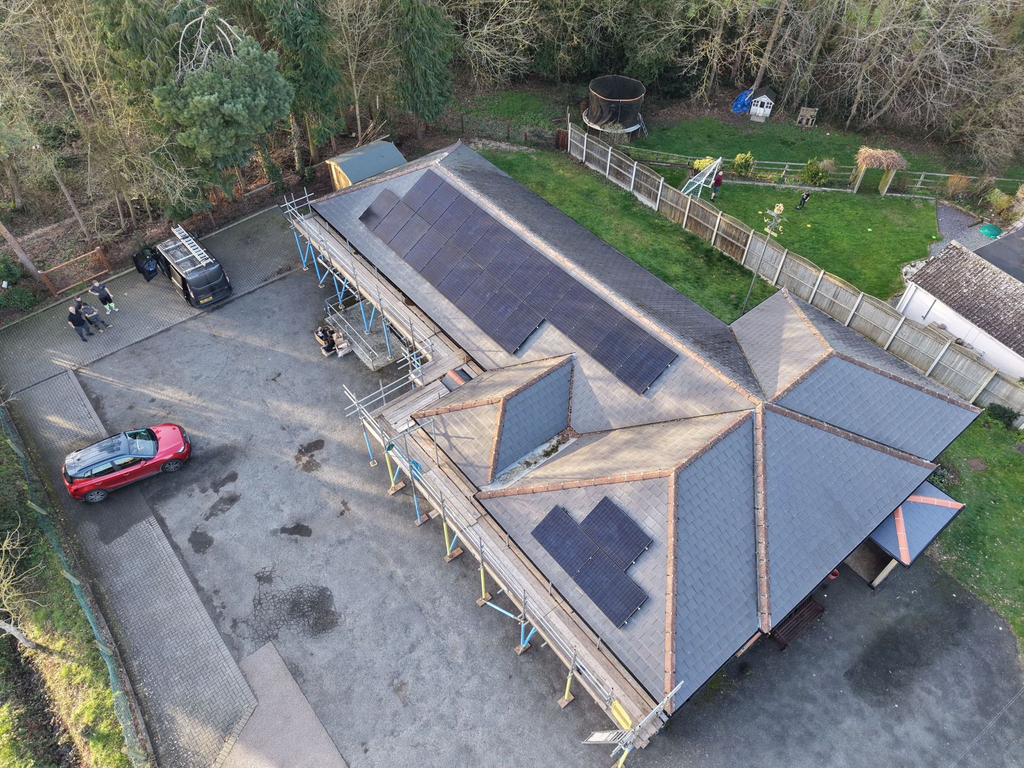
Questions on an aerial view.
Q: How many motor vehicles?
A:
2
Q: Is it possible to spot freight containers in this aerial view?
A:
No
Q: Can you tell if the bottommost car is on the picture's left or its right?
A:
left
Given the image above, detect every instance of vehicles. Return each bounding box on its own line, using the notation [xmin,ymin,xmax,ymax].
[125,222,235,302]
[53,417,192,502]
